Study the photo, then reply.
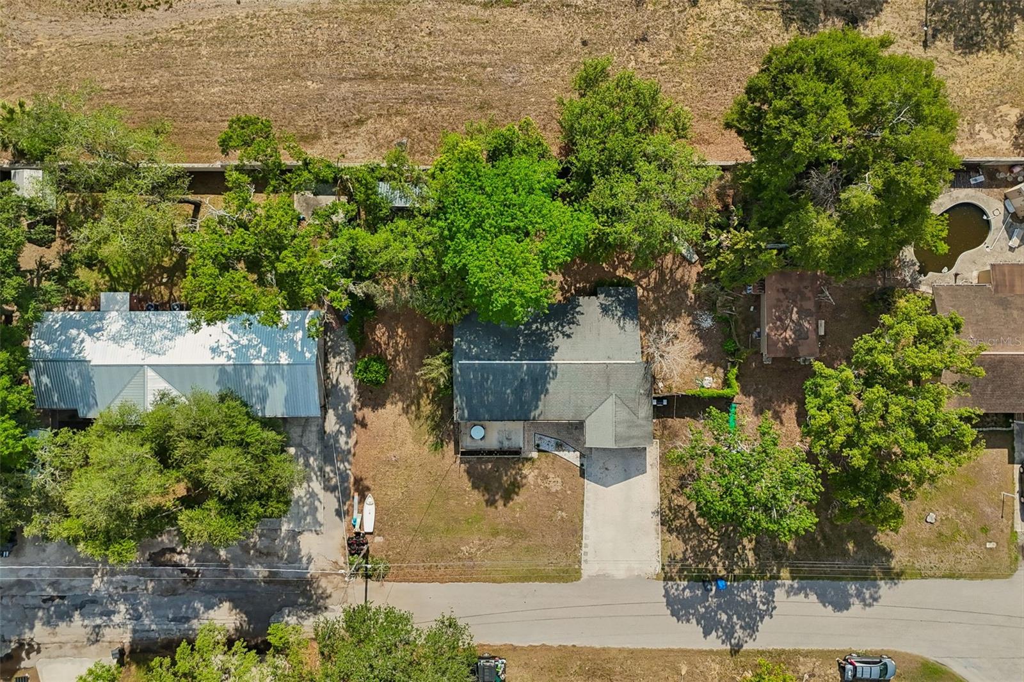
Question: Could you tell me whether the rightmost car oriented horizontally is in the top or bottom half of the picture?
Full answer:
It is in the bottom half that the rightmost car oriented horizontally appears.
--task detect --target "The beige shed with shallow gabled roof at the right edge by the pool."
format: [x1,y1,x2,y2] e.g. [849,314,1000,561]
[991,180,1024,218]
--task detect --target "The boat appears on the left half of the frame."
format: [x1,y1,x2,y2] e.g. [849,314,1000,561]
[362,496,374,535]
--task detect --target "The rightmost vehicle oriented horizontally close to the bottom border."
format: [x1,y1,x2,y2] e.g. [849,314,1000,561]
[838,652,897,682]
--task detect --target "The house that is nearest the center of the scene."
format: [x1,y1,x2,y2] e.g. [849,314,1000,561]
[451,287,653,449]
